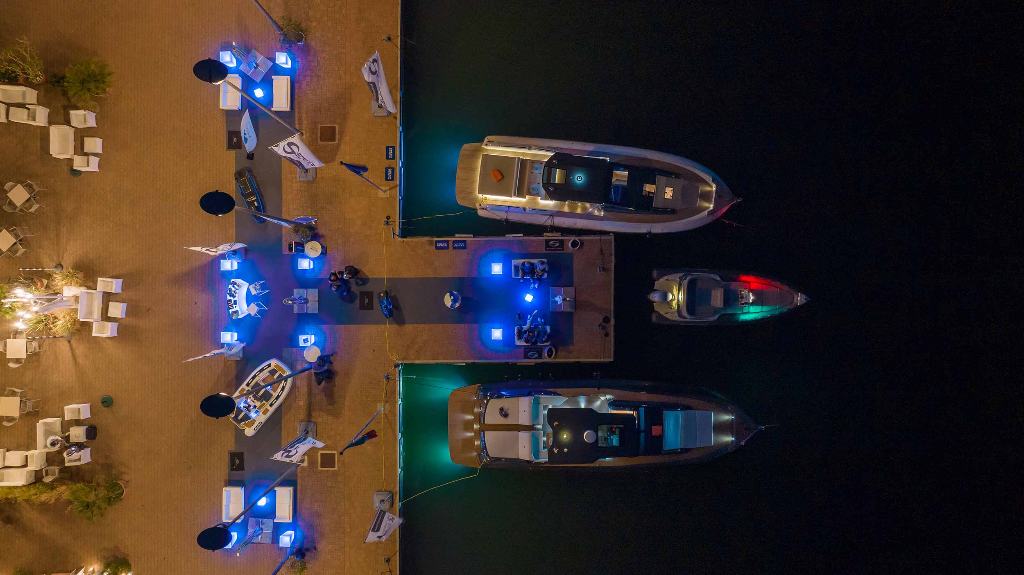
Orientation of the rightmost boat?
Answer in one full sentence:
Seen from above, the rightmost boat lies from left to right.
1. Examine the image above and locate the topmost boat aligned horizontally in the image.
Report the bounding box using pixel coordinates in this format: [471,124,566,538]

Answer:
[453,136,741,233]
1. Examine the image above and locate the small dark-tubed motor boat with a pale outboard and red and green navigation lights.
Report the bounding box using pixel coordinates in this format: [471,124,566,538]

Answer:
[647,268,811,326]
